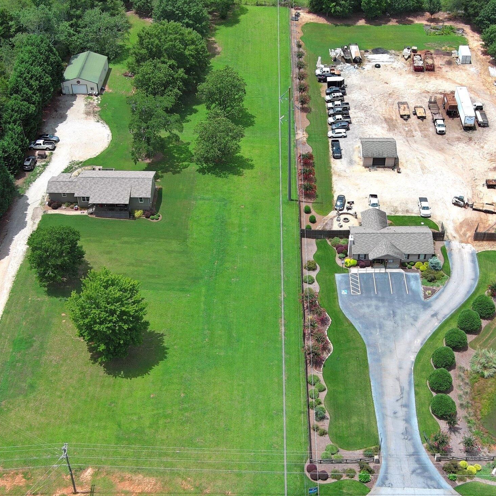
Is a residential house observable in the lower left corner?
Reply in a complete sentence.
No, no residential house is visible in the lower left corner.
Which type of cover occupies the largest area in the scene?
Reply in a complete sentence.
The scene is dominated by grass.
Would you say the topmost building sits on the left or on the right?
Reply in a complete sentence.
It is on the left.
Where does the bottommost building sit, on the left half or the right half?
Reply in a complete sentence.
The bottommost building sits on the right side.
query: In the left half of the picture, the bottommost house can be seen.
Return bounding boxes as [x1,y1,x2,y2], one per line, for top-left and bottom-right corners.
[46,171,156,216]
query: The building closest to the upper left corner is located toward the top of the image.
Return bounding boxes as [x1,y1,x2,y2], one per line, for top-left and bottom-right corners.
[60,51,108,94]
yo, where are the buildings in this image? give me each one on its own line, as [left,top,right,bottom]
[60,51,108,94]
[347,205,434,268]
[46,171,156,216]
[359,138,398,166]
